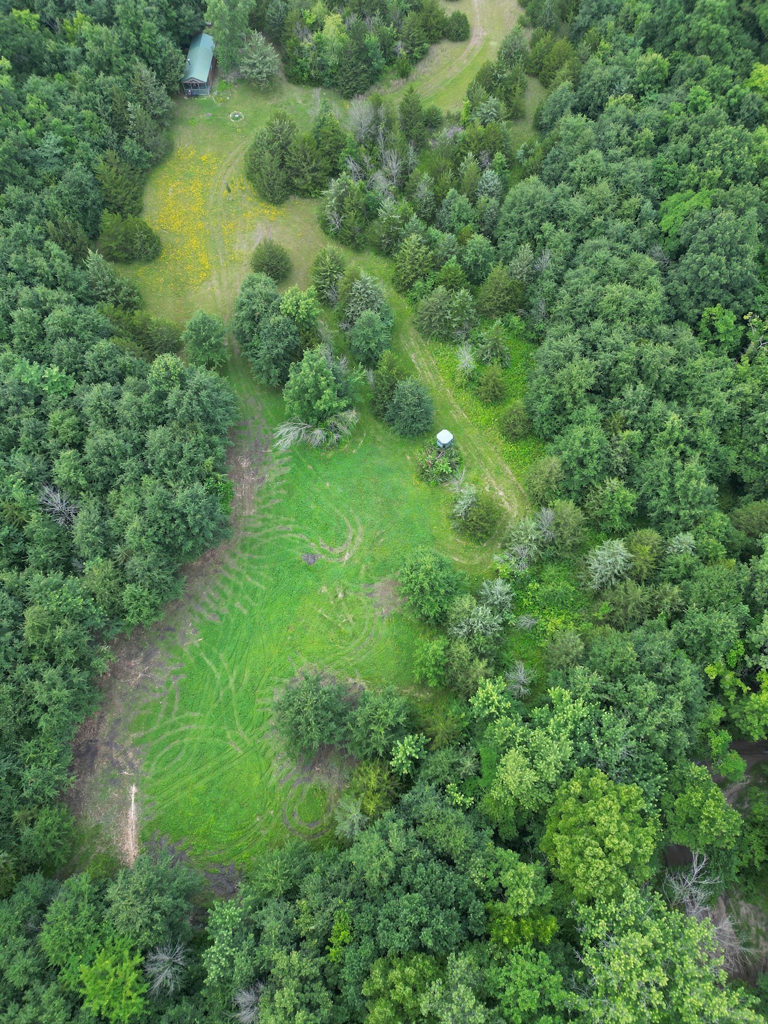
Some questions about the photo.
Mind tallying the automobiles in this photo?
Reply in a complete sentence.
There are no automobiles in the image.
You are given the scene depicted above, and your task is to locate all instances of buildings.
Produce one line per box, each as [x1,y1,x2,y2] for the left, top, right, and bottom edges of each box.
[181,31,214,96]
[436,429,453,452]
